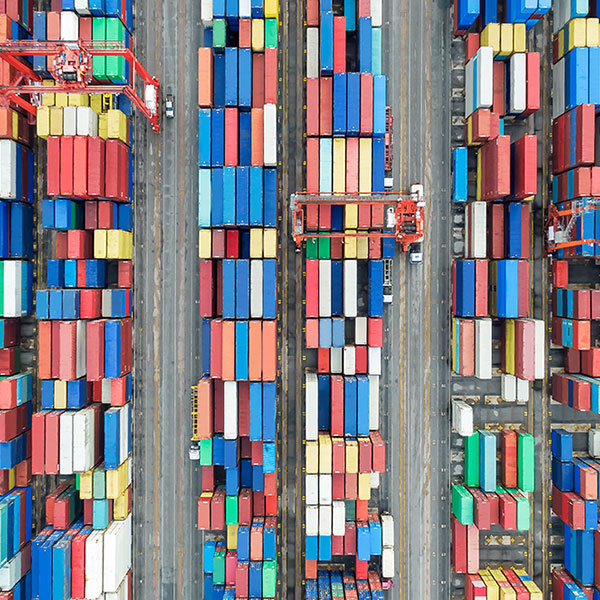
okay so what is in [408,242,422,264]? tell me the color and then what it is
white vehicle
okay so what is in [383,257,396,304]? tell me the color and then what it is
white vehicle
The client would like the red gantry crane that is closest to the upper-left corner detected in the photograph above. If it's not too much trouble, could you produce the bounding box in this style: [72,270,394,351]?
[0,39,161,130]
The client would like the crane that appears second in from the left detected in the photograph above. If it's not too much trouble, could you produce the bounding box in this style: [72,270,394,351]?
[290,189,432,253]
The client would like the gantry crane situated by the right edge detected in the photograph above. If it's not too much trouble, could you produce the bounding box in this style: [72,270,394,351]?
[543,193,600,257]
